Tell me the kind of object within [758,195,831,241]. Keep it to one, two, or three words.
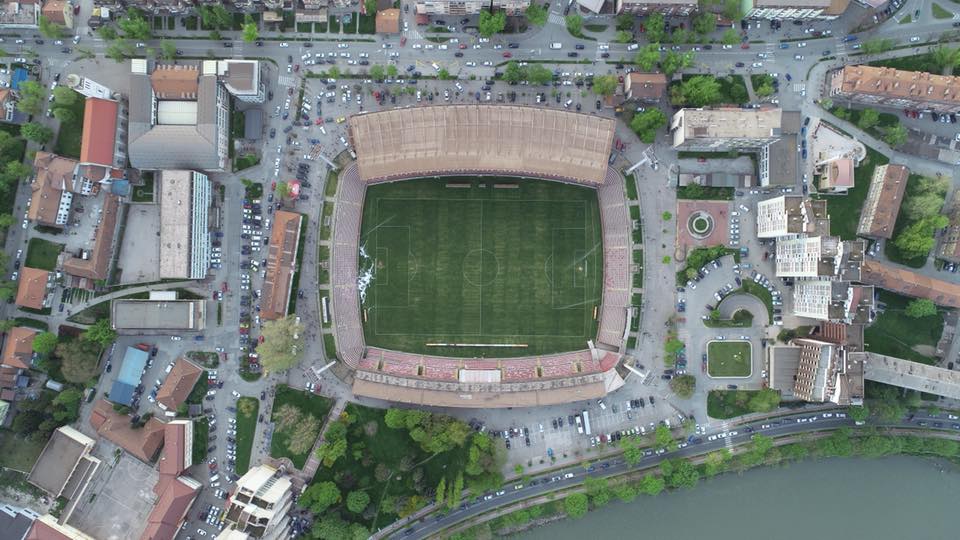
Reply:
building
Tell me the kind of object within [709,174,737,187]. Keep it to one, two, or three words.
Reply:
building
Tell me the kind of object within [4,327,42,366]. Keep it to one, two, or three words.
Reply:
house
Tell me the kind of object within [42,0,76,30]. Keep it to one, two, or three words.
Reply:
house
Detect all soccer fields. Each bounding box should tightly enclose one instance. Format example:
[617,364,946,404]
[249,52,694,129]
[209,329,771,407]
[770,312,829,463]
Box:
[360,178,603,357]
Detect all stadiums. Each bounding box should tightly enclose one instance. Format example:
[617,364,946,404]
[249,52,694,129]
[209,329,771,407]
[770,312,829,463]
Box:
[332,104,630,408]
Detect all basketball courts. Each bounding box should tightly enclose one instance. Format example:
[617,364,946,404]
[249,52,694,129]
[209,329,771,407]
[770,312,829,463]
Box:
[92,447,156,540]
